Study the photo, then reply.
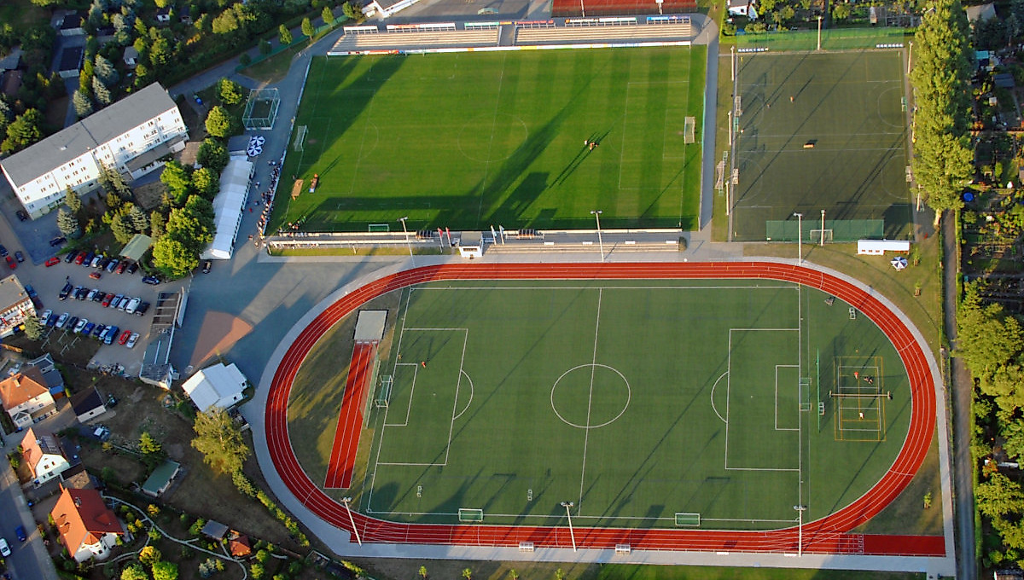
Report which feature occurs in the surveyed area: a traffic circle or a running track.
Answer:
running track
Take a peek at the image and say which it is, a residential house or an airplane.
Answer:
residential house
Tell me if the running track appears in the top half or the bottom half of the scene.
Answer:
bottom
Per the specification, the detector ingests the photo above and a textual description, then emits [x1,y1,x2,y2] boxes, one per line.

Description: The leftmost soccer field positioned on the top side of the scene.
[266,44,707,238]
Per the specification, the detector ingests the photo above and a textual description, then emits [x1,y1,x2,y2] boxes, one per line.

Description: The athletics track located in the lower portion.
[265,262,947,556]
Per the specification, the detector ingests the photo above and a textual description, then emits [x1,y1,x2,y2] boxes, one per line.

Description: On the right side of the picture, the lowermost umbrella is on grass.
[891,254,908,268]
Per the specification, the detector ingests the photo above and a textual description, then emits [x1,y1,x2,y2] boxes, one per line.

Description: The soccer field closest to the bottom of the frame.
[357,278,911,530]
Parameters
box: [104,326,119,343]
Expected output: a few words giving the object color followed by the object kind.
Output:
blue vehicle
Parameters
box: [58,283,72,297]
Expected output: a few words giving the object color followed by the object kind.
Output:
black car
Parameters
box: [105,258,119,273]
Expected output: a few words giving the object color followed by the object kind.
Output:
blue car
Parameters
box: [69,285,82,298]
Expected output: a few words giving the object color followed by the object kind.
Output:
blue vehicle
